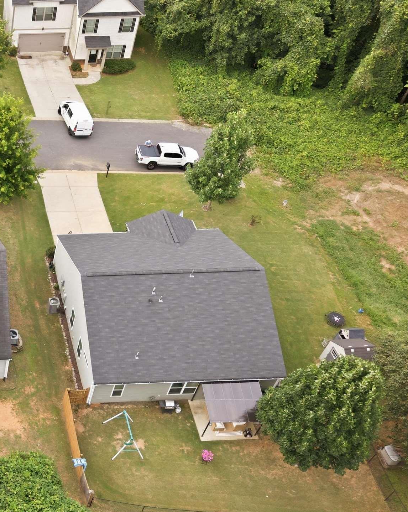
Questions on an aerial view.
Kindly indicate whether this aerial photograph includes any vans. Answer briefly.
Yes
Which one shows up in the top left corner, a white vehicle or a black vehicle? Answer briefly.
white vehicle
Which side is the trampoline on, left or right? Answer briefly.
right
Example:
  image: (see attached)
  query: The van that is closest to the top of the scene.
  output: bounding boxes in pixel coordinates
[58,102,95,140]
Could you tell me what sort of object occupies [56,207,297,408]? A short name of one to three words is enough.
house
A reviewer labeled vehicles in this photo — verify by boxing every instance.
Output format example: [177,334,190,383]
[137,141,203,171]
[58,102,95,140]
